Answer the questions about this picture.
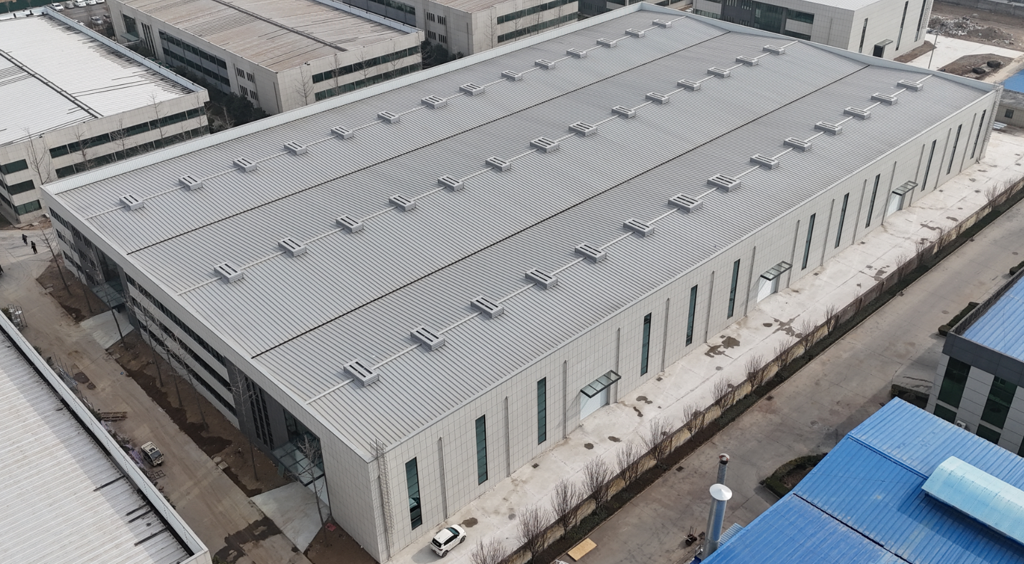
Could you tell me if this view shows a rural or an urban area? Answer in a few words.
urban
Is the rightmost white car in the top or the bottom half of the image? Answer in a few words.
bottom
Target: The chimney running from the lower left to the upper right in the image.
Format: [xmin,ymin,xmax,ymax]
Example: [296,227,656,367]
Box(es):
[618,446,801,558]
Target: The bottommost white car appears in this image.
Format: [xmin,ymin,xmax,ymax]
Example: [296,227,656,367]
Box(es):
[429,525,467,557]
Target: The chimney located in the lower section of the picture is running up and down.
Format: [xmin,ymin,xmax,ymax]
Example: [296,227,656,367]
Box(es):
[705,485,732,556]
